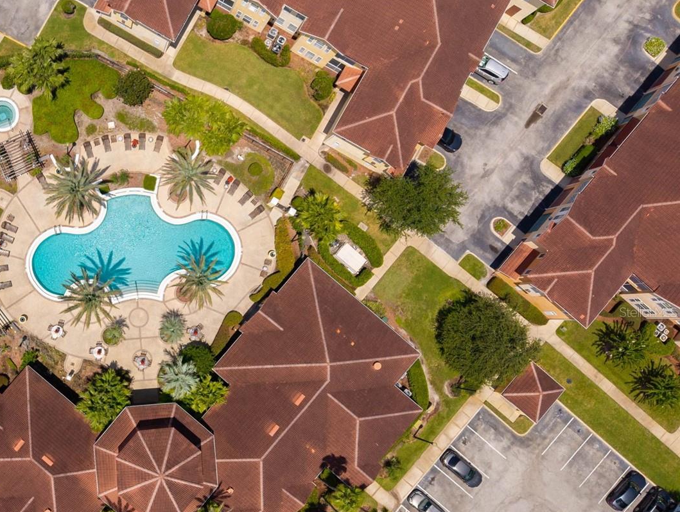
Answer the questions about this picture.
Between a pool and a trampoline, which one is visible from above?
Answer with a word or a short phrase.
pool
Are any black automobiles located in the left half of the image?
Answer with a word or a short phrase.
No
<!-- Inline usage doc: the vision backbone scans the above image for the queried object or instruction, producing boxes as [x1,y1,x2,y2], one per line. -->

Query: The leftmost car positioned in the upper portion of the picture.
[432,125,472,158]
